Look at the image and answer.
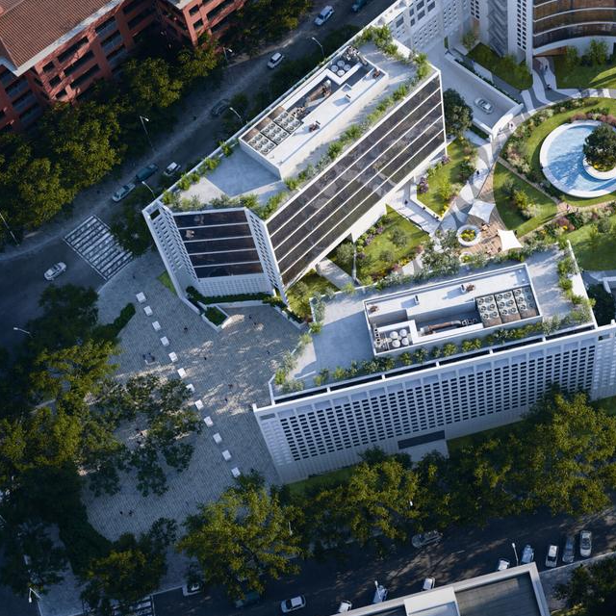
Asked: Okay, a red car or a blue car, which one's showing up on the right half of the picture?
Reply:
blue car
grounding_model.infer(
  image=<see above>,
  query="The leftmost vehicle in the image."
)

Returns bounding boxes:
[39,261,70,282]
